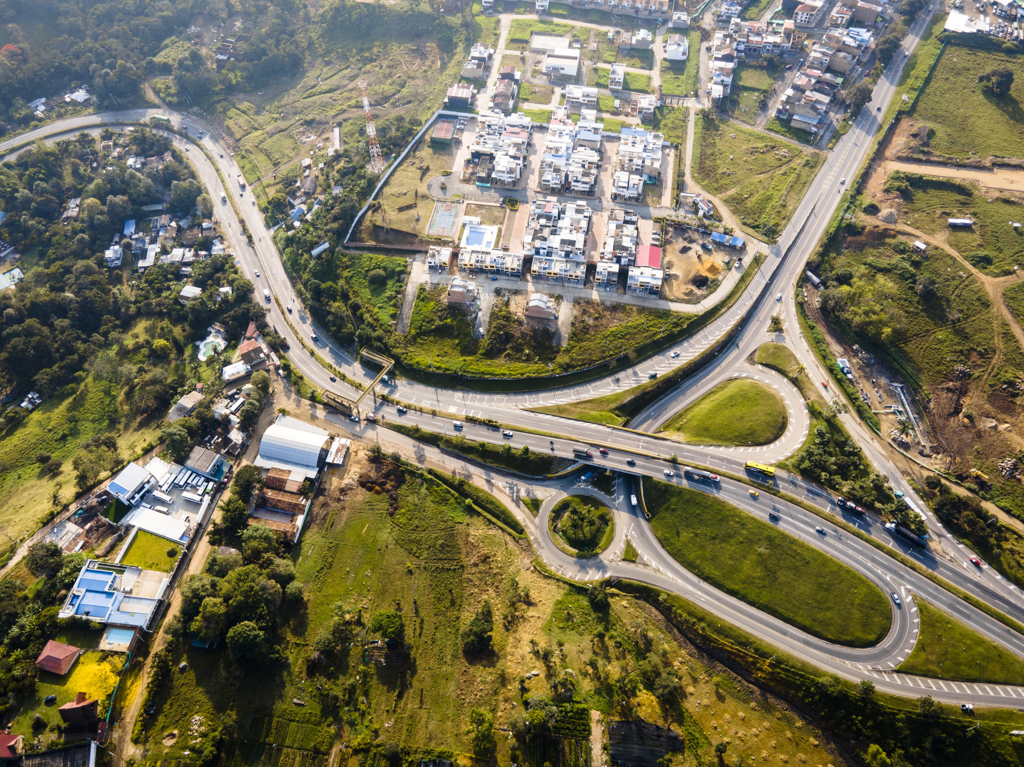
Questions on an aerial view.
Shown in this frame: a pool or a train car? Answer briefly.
pool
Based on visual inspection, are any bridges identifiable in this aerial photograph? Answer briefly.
Yes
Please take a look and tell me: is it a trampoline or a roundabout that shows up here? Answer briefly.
roundabout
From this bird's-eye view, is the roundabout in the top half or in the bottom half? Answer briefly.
bottom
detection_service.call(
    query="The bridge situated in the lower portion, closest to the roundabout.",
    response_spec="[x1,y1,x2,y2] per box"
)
[547,417,670,520]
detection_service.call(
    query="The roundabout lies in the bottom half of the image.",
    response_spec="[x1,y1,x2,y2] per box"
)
[536,486,627,570]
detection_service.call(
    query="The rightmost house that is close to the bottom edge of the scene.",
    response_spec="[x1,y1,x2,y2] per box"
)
[609,719,684,767]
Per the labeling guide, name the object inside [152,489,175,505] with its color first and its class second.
white vehicle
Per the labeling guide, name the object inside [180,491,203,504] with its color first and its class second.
white vehicle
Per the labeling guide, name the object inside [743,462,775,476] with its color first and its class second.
yellow vehicle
